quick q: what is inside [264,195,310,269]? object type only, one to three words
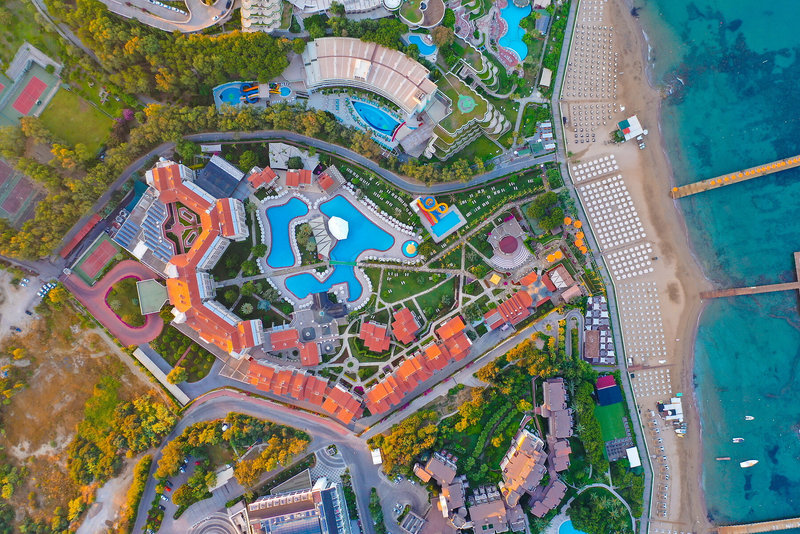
swimming pool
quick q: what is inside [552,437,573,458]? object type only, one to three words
building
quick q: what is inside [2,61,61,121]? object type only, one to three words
tennis court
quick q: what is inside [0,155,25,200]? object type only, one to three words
tennis court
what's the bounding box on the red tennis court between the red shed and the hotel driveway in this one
[72,233,122,286]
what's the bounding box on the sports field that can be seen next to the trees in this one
[600,402,628,442]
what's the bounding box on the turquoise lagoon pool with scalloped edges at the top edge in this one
[498,0,533,62]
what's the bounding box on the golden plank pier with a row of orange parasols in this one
[671,155,800,199]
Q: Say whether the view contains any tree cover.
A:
Yes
